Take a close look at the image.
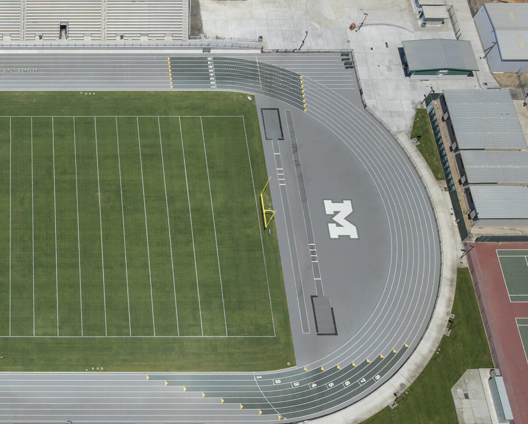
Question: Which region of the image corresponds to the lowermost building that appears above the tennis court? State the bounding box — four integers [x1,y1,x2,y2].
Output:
[464,185,528,226]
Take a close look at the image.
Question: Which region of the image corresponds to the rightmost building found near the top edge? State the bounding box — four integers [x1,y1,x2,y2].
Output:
[474,2,528,72]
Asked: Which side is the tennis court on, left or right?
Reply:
right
